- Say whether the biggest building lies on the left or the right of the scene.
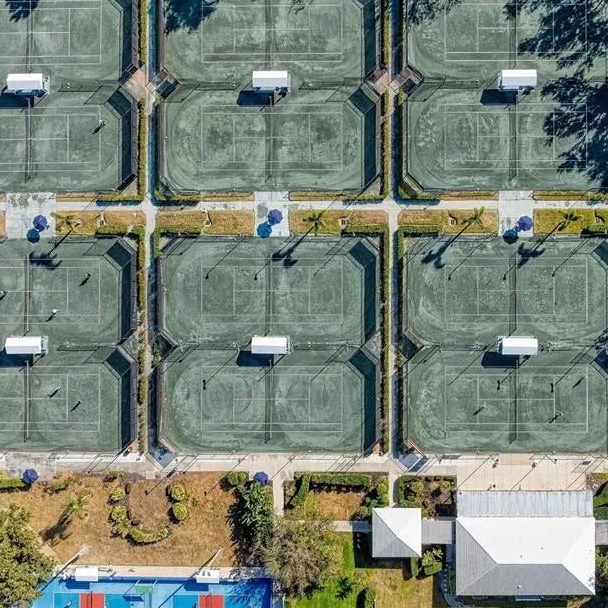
right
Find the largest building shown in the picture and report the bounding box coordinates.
[455,487,595,595]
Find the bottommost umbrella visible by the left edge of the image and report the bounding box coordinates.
[23,469,38,483]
